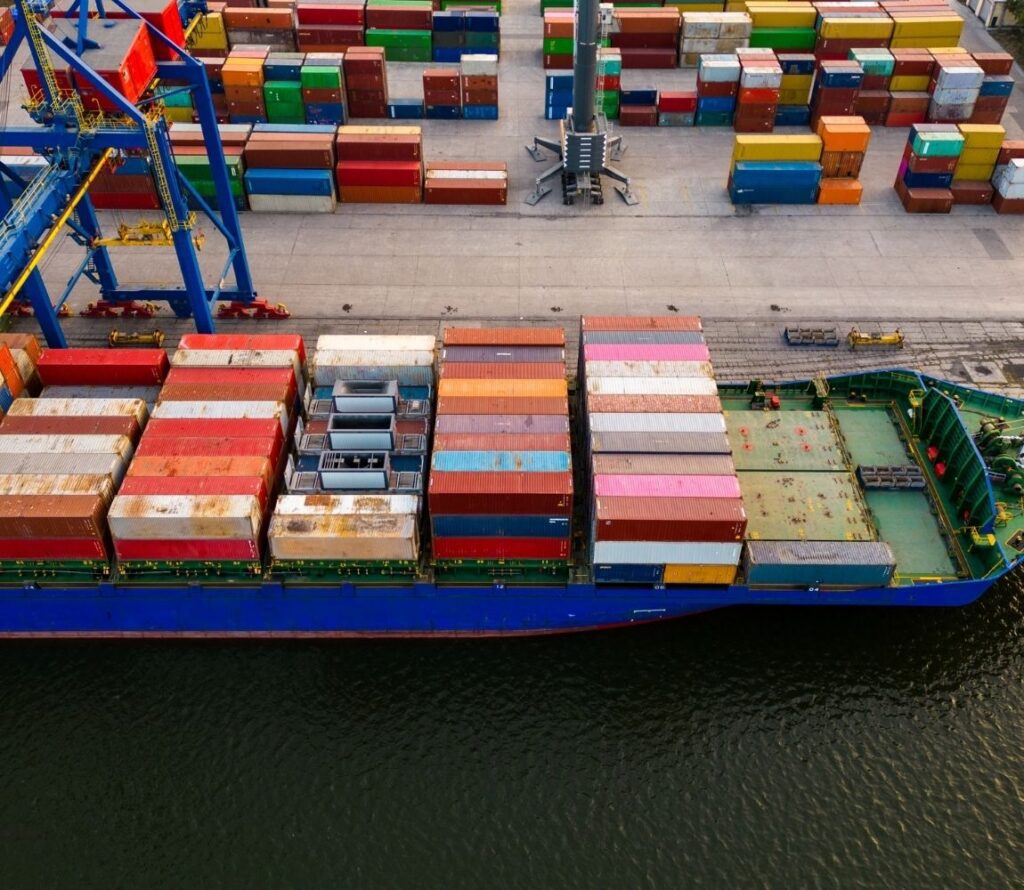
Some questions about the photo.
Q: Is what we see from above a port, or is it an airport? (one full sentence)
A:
The area seen from above is a port.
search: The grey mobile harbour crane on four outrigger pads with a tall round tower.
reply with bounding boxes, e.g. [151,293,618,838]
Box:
[522,0,643,209]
